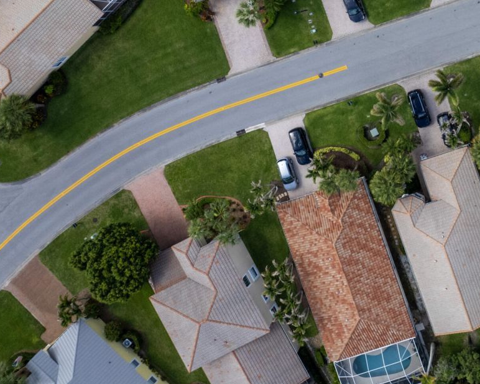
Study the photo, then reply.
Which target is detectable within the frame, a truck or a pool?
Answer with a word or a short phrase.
pool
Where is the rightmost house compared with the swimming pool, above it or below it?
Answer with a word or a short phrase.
above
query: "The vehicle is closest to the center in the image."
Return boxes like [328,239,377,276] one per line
[275,155,301,191]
